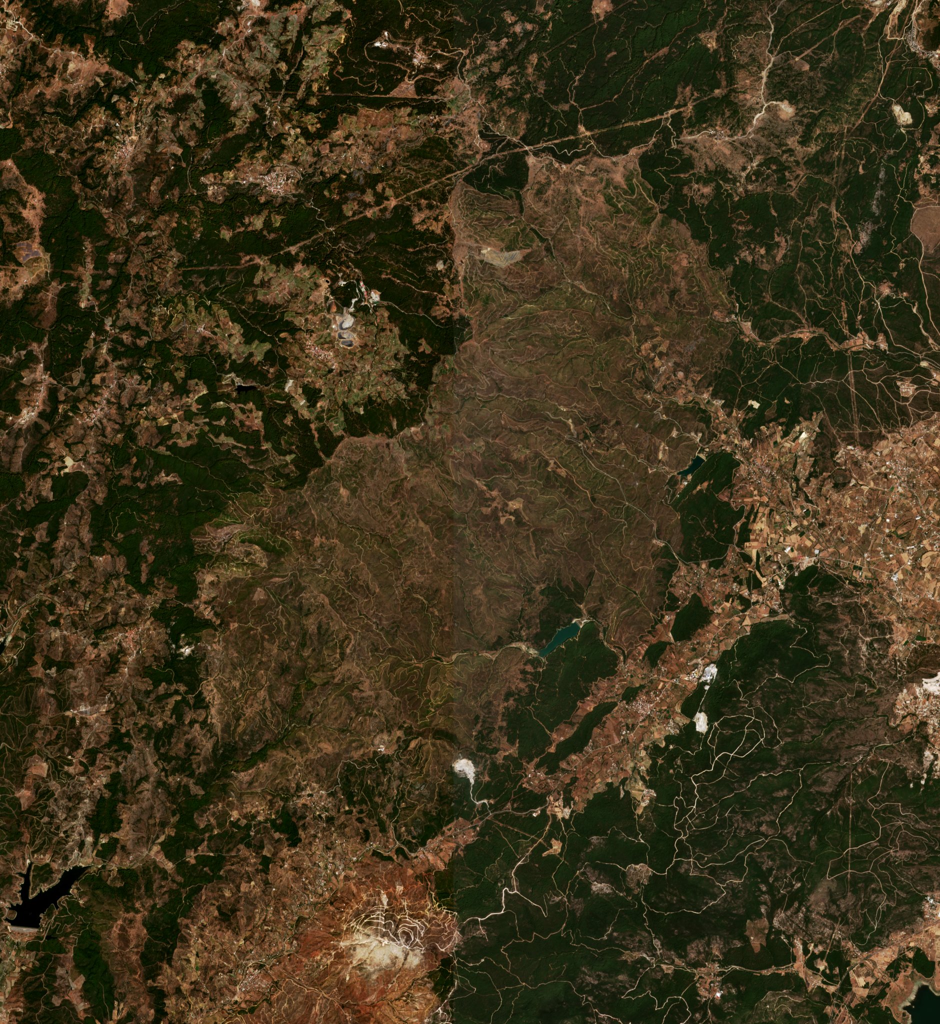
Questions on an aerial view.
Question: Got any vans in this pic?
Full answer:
No, the scene contains no van.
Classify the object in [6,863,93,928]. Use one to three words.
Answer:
pond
